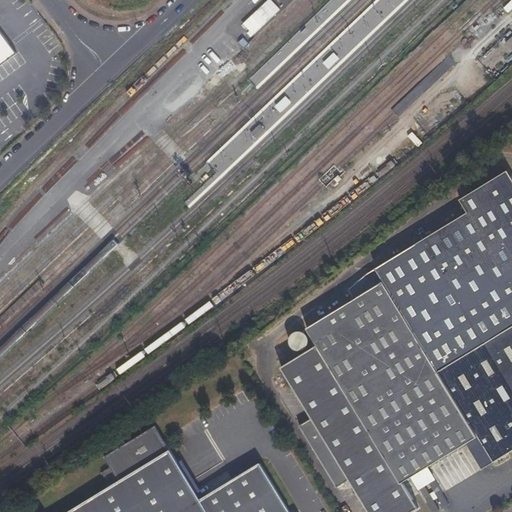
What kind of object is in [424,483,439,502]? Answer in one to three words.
vehicle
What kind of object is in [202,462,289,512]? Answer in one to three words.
building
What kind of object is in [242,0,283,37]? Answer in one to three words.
shed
